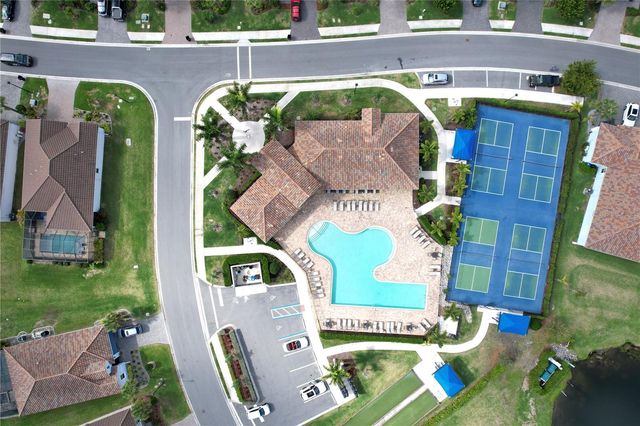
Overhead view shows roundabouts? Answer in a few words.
No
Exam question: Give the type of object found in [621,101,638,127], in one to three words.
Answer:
car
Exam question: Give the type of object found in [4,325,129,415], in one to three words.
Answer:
house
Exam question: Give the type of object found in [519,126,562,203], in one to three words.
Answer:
sports court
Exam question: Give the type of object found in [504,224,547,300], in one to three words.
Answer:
sports court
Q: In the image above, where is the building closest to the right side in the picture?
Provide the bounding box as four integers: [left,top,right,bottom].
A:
[572,122,640,262]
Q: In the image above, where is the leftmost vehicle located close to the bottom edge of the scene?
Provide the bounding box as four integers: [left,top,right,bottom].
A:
[246,403,272,421]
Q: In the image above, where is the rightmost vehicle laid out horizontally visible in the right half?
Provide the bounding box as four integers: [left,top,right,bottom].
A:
[528,74,560,88]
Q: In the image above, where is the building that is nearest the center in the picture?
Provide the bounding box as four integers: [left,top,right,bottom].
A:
[229,107,419,242]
